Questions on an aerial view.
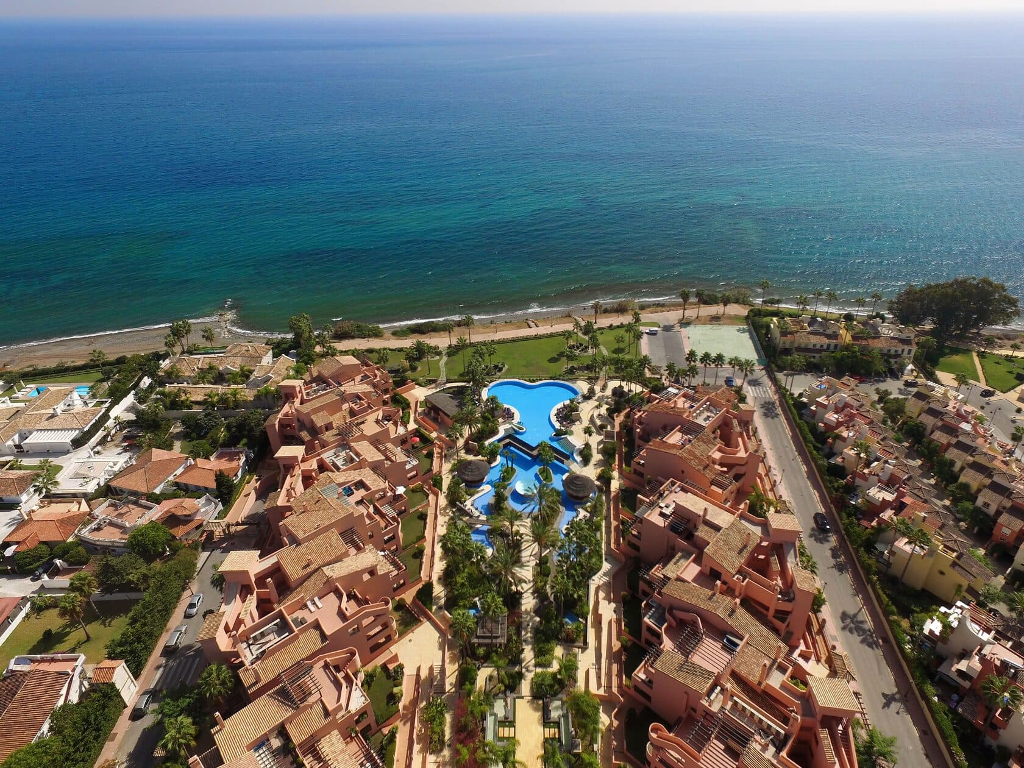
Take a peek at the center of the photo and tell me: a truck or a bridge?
bridge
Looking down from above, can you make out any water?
Yes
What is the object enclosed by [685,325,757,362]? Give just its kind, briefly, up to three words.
sports court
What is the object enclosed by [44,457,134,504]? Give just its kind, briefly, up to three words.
house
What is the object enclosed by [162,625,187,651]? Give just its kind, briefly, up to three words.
car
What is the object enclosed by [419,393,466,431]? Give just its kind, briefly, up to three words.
building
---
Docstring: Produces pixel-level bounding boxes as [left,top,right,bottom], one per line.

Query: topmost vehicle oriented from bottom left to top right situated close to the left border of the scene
[28,559,55,579]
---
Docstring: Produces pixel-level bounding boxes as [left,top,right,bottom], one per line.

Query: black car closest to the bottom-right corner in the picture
[814,514,831,532]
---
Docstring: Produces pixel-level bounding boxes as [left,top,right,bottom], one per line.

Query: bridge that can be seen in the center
[494,432,584,472]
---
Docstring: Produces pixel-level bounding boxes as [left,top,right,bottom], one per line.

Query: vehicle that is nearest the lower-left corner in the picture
[128,692,154,720]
